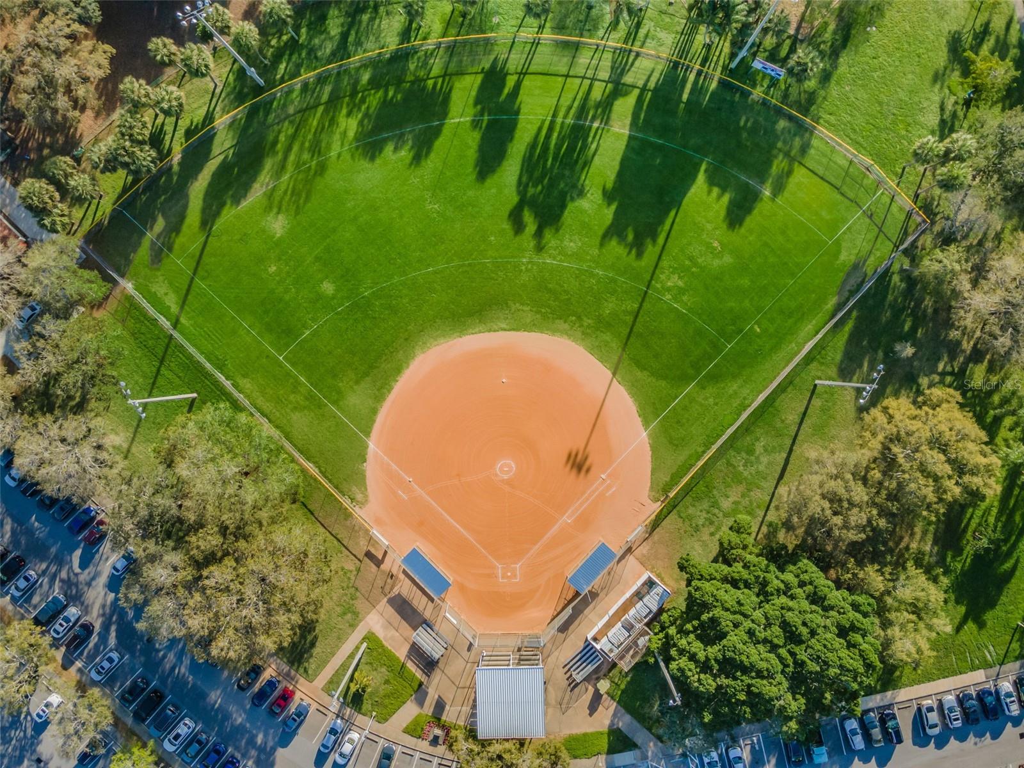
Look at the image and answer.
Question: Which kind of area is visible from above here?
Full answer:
The picture captures a sports ground.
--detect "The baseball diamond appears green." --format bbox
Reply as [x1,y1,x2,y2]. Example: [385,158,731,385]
[93,40,919,634]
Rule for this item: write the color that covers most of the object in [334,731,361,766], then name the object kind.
white car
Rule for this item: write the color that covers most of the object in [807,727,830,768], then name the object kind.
blue truck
